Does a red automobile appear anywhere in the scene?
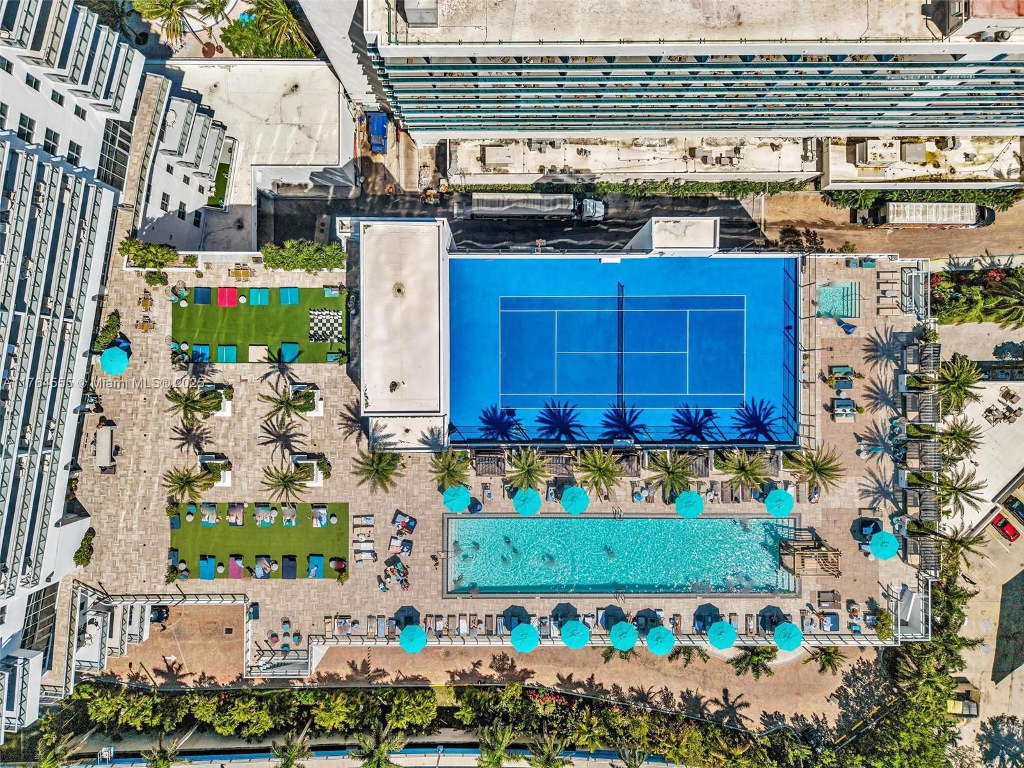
Yes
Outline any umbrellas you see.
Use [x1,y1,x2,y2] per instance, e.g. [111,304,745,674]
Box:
[560,488,587,515]
[772,621,800,649]
[559,619,586,647]
[512,622,541,651]
[675,489,704,518]
[867,533,898,561]
[705,617,734,648]
[511,488,540,517]
[397,625,425,653]
[608,618,637,648]
[467,503,483,515]
[100,345,133,374]
[766,490,793,517]
[644,626,672,654]
[444,484,472,511]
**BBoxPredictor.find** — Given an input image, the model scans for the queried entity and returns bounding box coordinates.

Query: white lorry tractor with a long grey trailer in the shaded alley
[455,194,606,223]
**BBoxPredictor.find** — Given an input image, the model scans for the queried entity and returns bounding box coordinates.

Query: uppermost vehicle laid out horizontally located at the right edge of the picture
[839,202,990,231]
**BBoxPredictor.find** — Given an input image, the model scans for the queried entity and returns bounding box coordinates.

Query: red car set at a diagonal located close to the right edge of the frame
[985,511,1023,545]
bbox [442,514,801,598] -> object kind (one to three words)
swimming pool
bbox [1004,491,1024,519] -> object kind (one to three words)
car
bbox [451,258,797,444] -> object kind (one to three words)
tennis court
